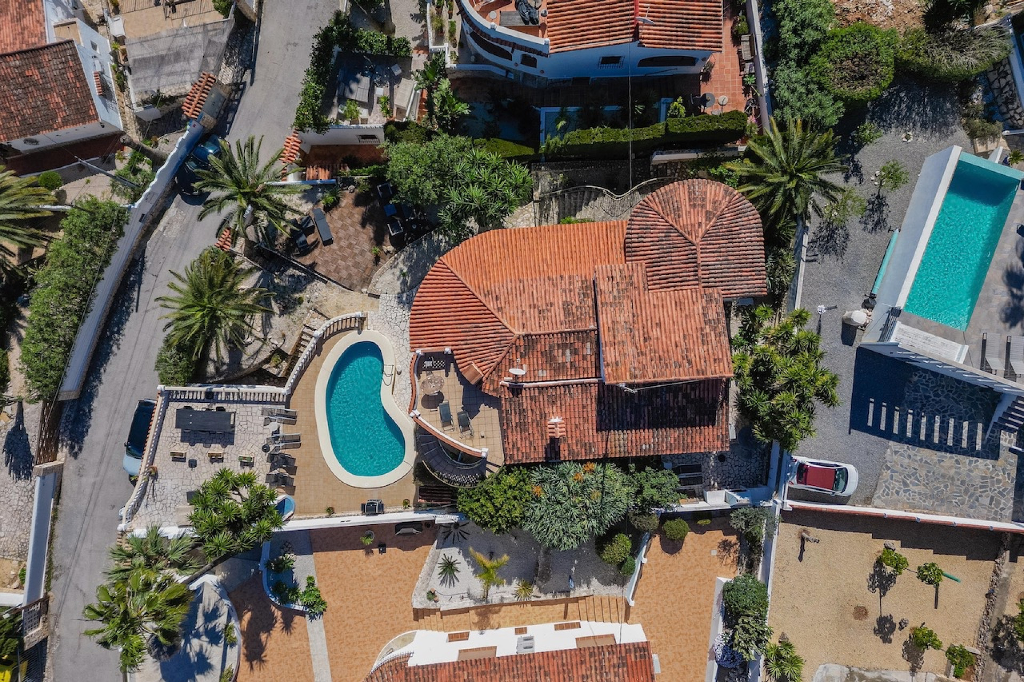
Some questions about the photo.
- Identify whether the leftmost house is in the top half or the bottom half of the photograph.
top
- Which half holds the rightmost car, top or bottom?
bottom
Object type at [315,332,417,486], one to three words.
swimming pool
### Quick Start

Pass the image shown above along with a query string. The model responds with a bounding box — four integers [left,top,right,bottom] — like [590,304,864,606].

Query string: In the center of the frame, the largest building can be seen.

[409,178,767,469]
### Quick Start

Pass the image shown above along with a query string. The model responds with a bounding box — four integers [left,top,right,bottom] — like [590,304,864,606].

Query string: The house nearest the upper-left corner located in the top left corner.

[0,0,124,159]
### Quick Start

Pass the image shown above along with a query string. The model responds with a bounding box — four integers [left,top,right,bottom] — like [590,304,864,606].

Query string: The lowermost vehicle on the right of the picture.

[790,457,864,501]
